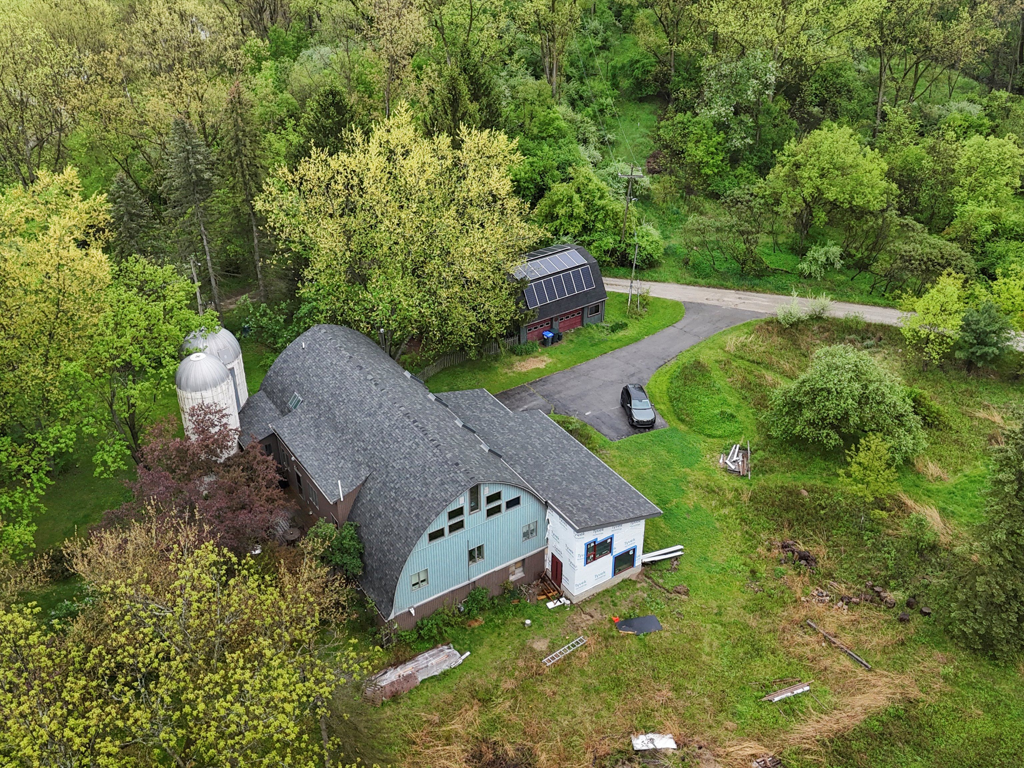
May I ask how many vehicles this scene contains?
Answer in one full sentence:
The photo contains exactly 1 vehicle.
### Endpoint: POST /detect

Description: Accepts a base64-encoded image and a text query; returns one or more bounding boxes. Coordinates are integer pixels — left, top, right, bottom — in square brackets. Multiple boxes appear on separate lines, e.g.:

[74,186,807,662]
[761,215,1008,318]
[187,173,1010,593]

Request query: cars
[620,383,657,430]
